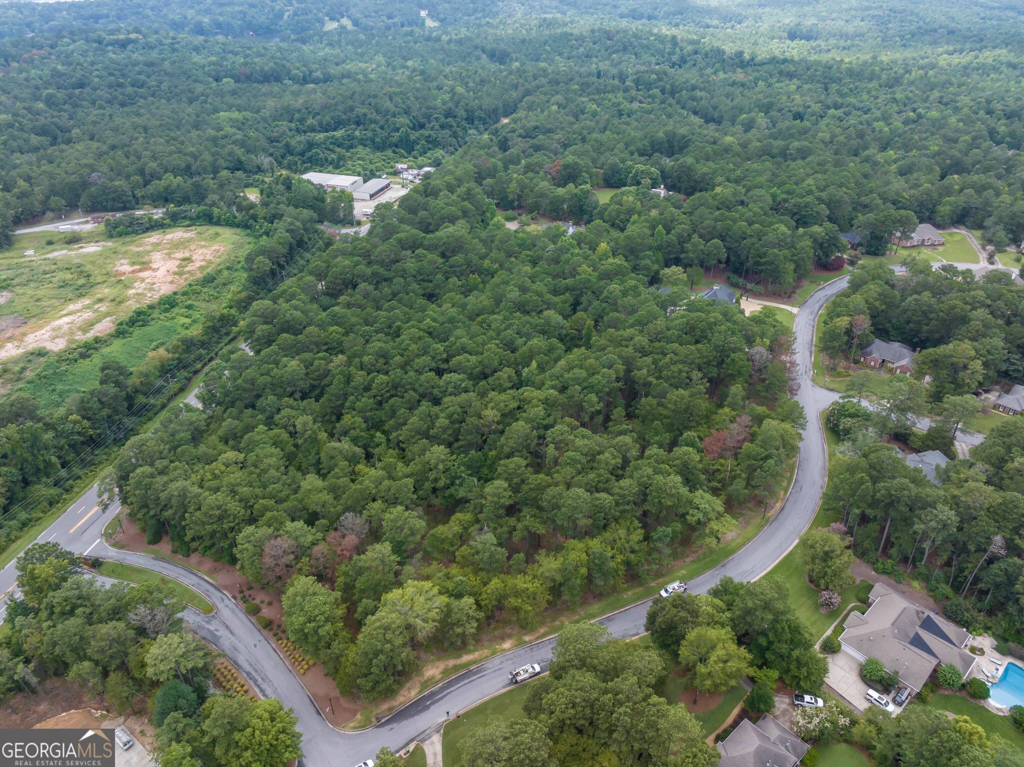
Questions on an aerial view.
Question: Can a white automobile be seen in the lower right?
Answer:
Yes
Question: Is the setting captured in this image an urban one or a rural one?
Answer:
rural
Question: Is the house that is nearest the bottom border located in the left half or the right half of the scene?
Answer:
right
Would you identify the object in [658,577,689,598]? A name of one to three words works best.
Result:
truck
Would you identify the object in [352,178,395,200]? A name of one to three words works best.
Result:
building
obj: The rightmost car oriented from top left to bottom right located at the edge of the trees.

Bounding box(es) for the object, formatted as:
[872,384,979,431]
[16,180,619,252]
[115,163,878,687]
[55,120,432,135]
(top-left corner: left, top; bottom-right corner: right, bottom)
[862,686,897,714]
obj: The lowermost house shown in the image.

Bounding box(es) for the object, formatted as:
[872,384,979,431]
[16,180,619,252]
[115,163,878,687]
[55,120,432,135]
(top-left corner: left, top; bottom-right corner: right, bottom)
[712,713,811,767]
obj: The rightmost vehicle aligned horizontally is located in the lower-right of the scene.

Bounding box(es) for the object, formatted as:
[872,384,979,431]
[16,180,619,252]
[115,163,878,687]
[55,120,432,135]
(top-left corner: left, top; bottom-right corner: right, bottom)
[792,692,825,708]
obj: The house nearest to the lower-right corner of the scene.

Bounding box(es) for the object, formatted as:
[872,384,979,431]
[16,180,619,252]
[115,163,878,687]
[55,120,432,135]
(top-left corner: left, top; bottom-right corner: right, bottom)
[837,582,977,697]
